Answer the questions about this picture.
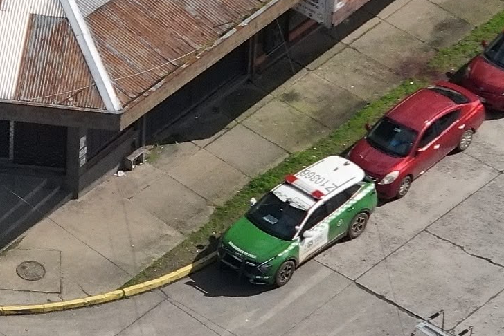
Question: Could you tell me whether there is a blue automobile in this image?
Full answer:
No, this view has no blue automobile in it.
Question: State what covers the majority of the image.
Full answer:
The largest share of the image is taken up by paved ground.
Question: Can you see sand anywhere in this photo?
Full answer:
No, there's no sand in this view.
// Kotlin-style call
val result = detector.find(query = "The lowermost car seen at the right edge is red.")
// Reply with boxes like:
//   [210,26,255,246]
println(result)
[342,85,482,202]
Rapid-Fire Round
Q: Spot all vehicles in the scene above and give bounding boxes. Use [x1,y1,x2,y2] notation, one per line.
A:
[461,32,504,113]
[342,85,482,202]
[214,161,379,290]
